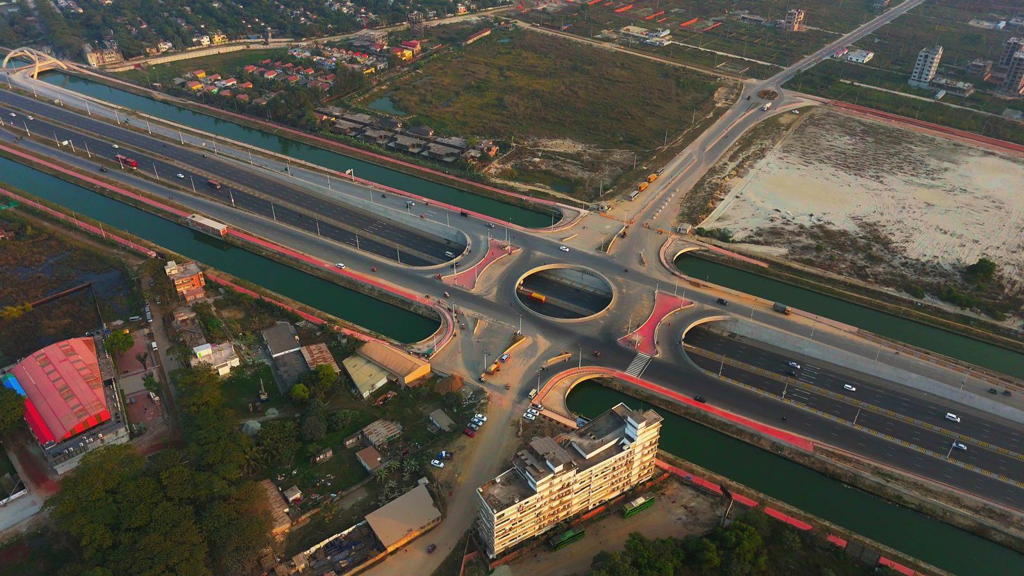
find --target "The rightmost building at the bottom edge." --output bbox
[474,398,664,554]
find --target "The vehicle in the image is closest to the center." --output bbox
[527,290,550,303]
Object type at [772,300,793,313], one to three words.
vehicle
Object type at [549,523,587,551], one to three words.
bus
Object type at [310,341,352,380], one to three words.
shed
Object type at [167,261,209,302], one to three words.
house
